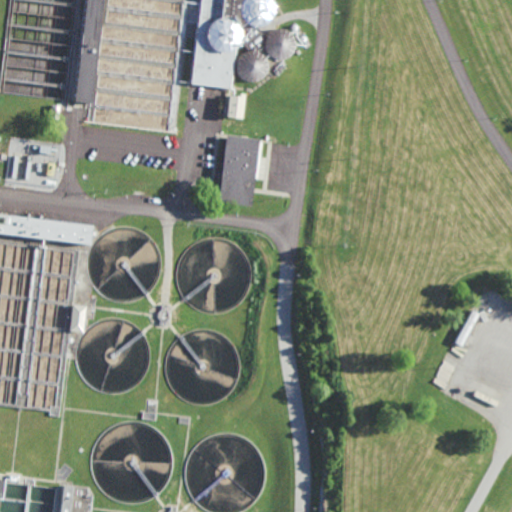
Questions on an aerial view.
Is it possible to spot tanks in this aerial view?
Yes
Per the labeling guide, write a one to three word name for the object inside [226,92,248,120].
shed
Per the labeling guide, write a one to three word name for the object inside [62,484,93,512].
building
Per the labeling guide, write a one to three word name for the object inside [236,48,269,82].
storage tank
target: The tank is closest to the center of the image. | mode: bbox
[176,237,252,313]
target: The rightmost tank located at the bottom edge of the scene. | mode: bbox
[184,433,266,512]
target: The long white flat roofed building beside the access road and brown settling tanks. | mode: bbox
[0,214,94,246]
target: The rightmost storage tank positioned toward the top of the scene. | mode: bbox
[264,28,298,61]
